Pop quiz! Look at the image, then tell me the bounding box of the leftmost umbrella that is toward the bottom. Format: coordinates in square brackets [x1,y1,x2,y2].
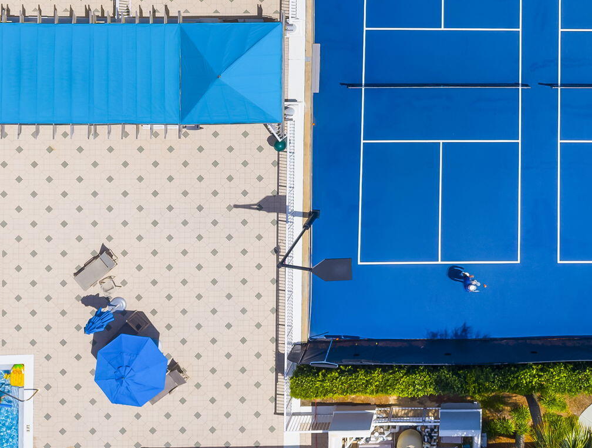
[87,295,126,332]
